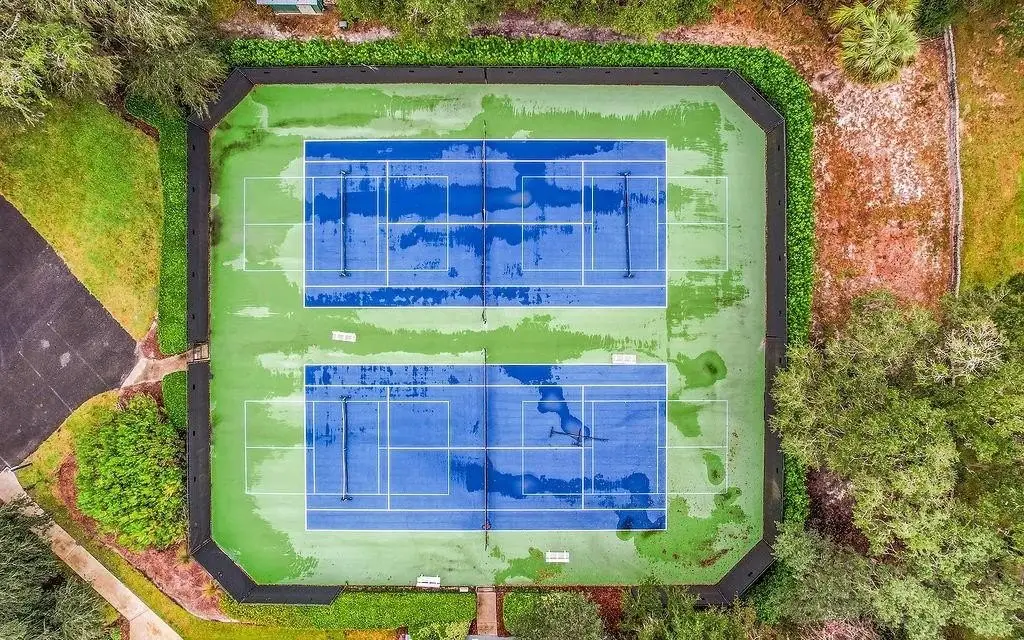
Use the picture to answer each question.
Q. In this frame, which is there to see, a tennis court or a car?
tennis court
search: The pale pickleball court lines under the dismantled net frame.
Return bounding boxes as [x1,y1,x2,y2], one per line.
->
[522,401,729,494]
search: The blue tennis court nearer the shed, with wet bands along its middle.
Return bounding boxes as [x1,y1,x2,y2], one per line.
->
[303,139,667,307]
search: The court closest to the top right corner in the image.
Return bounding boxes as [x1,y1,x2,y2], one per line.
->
[522,177,729,271]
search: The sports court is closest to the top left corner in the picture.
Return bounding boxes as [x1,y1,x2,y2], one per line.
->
[244,177,448,271]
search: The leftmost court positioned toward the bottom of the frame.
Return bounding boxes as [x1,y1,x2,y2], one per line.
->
[245,401,449,495]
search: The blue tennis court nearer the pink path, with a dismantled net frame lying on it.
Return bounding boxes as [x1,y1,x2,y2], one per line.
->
[304,364,668,531]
